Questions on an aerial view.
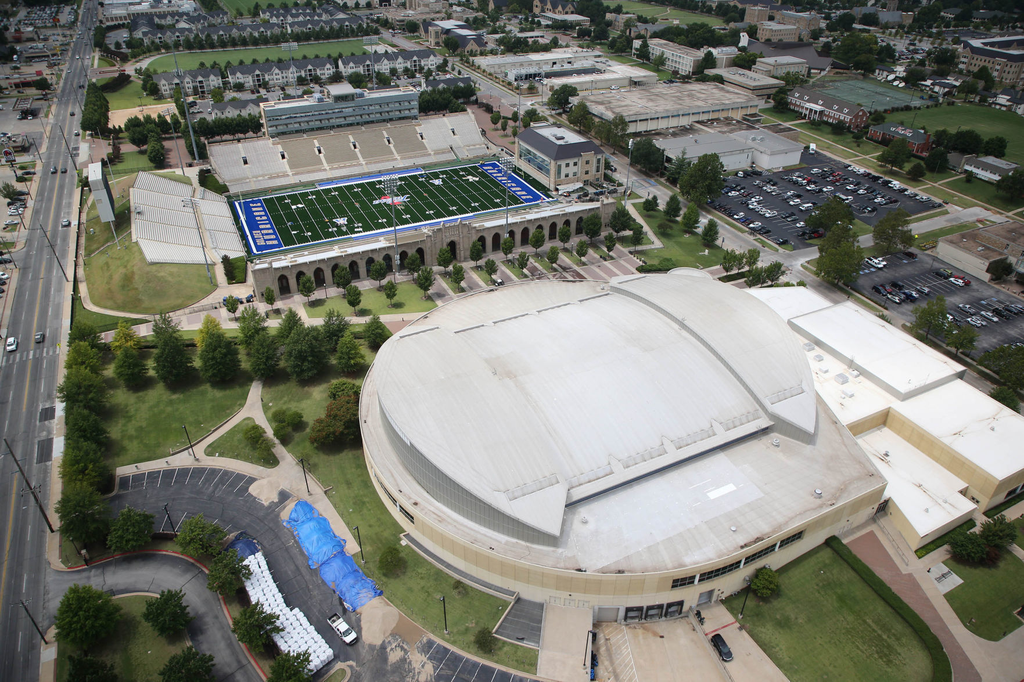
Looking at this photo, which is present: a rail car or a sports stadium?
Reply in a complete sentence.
Of the two, only a sports stadium appears.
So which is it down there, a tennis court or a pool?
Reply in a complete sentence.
Visible in the photo is a tennis court.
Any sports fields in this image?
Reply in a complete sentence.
Yes, the image includes a sports field.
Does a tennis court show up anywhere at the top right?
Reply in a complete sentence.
Yes, a tennis court is visible at the top right.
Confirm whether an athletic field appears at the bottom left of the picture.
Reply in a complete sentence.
No, there's no athletic field to be seen at the bottom left of the picture.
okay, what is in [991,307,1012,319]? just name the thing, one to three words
vehicle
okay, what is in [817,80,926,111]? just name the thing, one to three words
tennis court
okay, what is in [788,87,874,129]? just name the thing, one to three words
building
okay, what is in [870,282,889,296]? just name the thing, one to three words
vehicle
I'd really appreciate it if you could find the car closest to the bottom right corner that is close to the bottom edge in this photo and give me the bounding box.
[713,635,732,664]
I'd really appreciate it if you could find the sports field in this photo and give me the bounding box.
[228,159,569,256]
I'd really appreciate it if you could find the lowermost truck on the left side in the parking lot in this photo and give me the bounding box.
[329,614,358,646]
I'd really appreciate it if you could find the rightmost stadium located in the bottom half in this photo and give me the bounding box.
[359,264,888,621]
